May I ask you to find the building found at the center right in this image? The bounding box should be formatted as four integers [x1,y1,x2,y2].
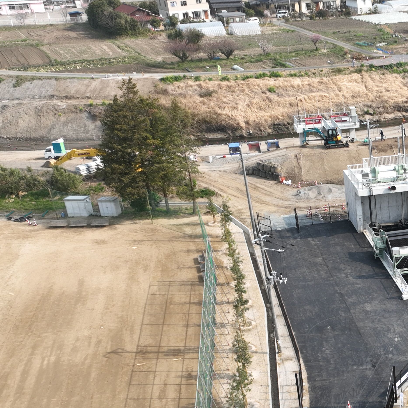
[342,139,408,242]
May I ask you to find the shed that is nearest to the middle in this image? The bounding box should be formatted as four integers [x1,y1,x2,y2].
[92,189,127,216]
